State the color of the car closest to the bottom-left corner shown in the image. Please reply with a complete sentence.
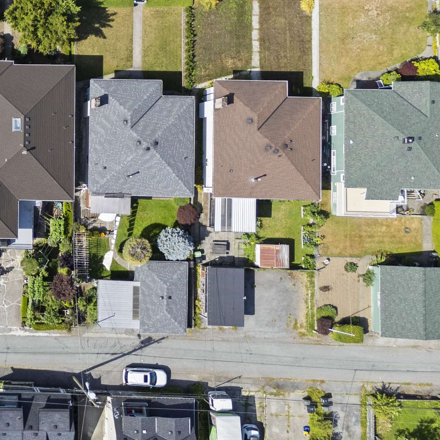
The car closest to the bottom-left corner looks white in the image.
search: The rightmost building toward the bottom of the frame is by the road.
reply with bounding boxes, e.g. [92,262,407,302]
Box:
[370,265,440,340]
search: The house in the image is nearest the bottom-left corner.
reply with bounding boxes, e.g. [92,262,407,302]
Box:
[0,383,75,440]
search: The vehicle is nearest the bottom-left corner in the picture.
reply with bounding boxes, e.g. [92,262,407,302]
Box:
[122,367,166,388]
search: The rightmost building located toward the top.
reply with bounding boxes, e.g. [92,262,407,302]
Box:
[323,80,440,217]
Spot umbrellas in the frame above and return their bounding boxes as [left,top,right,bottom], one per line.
[98,213,116,226]
[102,251,115,270]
